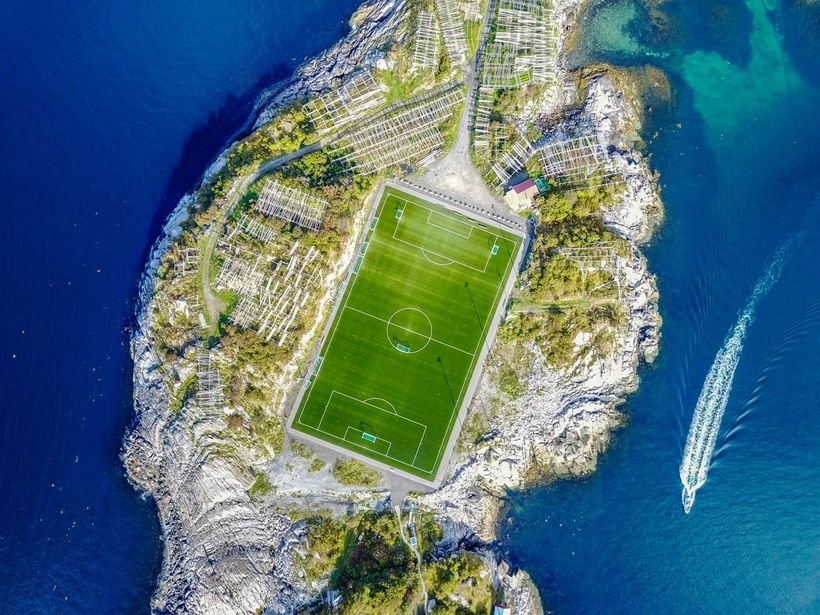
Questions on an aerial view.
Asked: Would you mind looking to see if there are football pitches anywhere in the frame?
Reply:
Yes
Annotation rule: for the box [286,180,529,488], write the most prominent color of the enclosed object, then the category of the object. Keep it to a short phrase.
green soccer field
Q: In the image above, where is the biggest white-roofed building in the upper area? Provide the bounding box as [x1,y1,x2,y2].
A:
[505,178,540,211]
